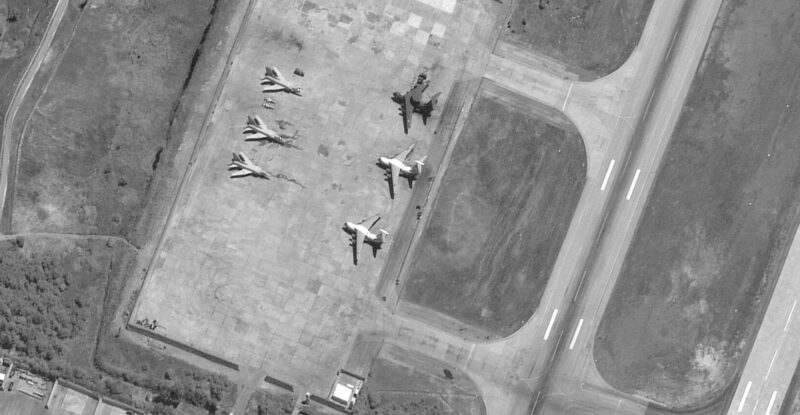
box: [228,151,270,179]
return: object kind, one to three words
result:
airplane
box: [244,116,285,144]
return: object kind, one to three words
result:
airplane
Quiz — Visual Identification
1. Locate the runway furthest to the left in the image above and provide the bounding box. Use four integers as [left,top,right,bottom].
[498,0,722,415]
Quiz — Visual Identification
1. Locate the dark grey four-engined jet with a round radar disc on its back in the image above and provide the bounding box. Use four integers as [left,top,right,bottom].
[395,79,441,127]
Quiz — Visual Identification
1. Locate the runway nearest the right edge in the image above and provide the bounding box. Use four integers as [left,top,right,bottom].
[726,221,800,415]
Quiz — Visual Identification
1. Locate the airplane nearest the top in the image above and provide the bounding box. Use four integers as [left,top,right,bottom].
[260,67,302,96]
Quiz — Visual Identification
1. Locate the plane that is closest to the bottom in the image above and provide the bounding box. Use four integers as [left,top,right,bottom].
[346,210,392,257]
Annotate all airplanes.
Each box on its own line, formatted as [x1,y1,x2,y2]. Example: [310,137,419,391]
[228,151,270,179]
[346,210,392,257]
[395,79,441,127]
[244,116,285,144]
[260,67,302,96]
[380,143,428,191]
